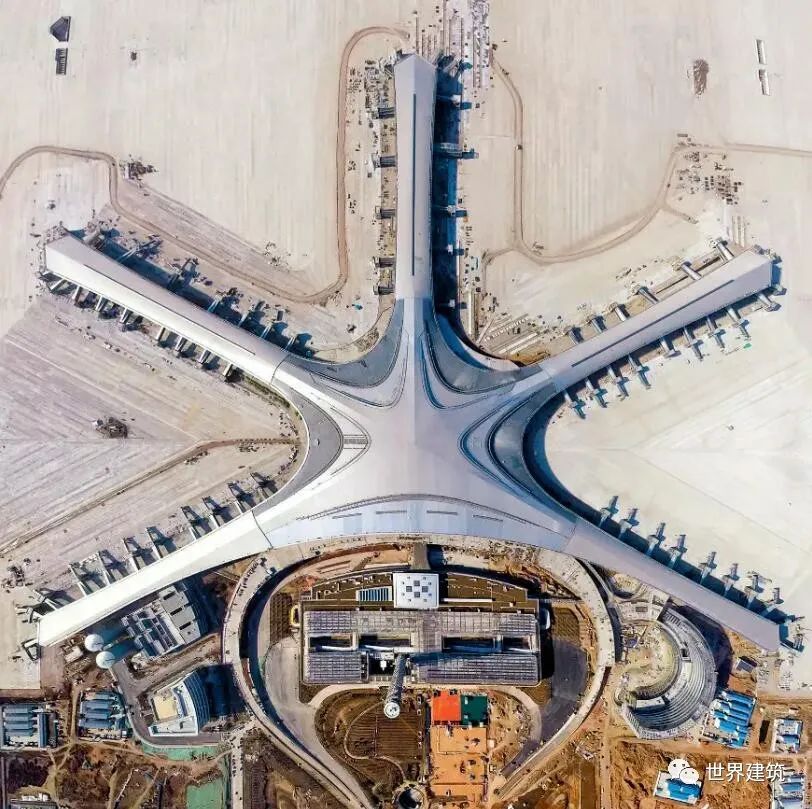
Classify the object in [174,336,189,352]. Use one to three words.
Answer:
jet bridge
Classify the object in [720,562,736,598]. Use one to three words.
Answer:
jet bridge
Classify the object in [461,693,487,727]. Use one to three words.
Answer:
shed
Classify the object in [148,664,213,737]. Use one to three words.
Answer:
building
